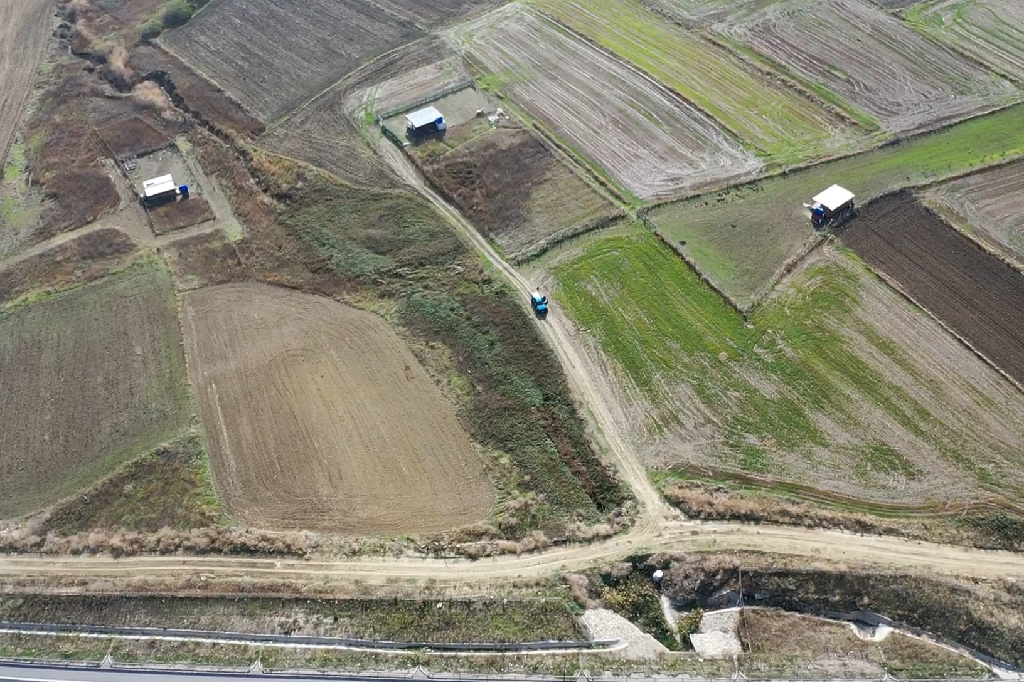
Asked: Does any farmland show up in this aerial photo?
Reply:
Yes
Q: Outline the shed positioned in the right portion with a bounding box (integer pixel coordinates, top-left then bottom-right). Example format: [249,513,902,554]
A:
[810,184,855,222]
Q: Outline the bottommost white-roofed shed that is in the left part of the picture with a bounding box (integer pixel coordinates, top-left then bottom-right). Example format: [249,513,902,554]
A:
[143,174,177,205]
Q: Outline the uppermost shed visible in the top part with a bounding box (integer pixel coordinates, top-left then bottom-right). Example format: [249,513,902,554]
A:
[406,105,443,137]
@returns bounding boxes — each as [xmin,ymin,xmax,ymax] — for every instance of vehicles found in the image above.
[530,287,550,317]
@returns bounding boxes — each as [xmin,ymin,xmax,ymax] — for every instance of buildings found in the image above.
[406,105,443,137]
[810,184,855,222]
[143,174,177,205]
